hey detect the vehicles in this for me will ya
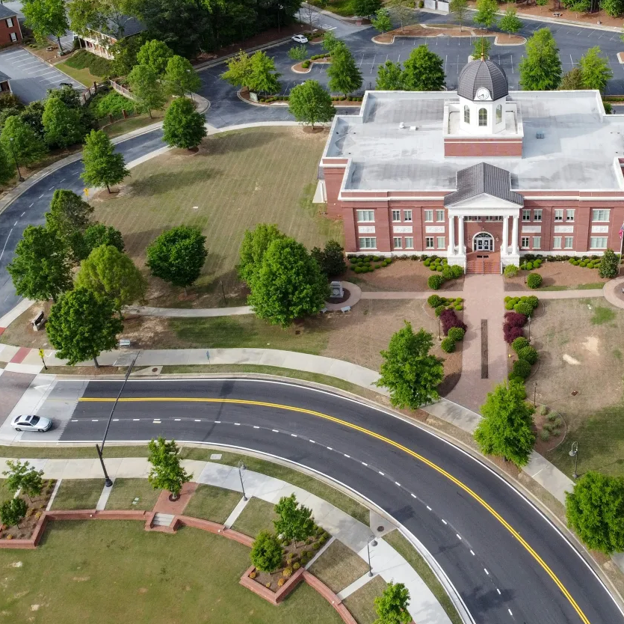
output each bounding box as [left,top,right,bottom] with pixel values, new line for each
[291,34,307,44]
[5,412,54,432]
